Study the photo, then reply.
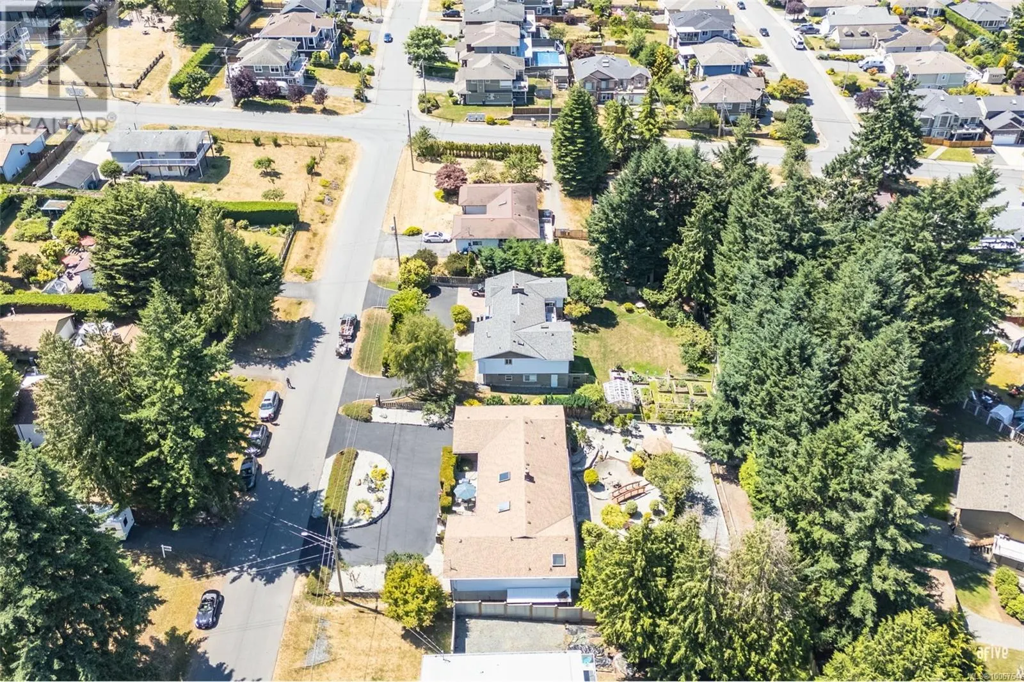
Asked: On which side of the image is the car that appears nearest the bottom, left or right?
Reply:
left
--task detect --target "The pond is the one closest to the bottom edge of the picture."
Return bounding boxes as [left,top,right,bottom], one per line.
[591,458,648,511]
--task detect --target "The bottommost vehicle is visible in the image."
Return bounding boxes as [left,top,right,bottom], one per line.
[194,584,225,628]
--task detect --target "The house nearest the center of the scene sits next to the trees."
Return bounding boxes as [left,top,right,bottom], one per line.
[473,266,576,392]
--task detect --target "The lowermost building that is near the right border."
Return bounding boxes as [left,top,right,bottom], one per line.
[946,439,1024,567]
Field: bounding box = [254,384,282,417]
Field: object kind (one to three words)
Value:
car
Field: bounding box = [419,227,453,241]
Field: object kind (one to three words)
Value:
car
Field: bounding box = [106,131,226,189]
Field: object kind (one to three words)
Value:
house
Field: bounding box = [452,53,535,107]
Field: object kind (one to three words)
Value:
house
